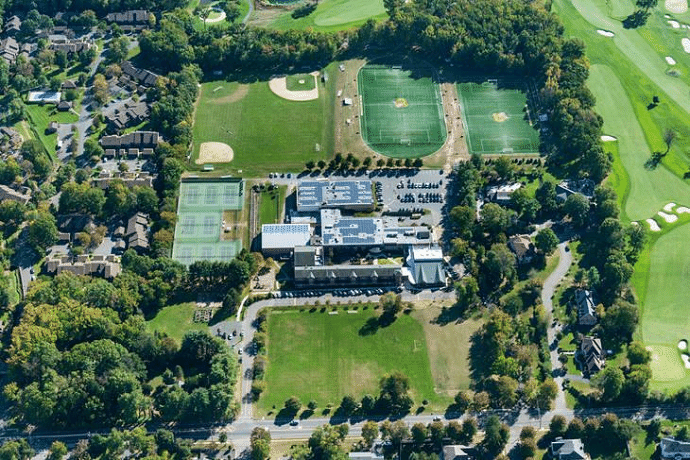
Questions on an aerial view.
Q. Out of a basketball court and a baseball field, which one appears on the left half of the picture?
baseball field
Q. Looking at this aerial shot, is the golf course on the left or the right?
right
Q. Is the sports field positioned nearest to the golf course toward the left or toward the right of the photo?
right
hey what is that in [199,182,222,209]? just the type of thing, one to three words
tennis court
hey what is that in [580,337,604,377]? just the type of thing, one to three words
house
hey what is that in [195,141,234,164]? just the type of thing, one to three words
baseball field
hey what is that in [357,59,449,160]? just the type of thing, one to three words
sports field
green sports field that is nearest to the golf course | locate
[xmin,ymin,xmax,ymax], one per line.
[455,77,543,154]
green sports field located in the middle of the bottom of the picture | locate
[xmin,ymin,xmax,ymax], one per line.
[253,306,447,421]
